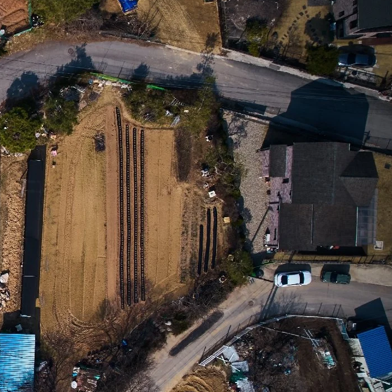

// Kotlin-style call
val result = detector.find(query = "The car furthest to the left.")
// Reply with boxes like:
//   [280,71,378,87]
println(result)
[276,270,316,289]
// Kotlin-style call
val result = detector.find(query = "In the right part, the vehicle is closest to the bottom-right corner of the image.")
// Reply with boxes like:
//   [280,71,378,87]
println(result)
[322,269,357,287]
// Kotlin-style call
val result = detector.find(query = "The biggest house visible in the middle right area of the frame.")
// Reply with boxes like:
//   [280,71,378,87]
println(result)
[265,143,379,252]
